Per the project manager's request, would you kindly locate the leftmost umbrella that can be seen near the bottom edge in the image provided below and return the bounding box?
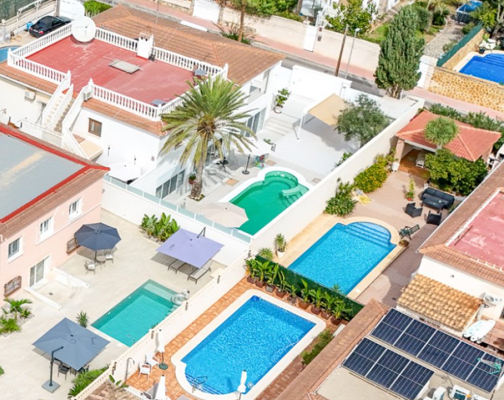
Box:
[32,319,111,394]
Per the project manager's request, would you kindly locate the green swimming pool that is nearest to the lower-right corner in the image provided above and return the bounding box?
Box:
[195,167,315,245]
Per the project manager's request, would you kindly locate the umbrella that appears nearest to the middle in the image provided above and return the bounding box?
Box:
[204,204,250,234]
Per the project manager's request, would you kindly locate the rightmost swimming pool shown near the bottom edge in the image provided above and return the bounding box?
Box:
[166,288,327,400]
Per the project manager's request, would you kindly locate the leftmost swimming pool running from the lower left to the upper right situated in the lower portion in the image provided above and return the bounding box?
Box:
[84,275,187,347]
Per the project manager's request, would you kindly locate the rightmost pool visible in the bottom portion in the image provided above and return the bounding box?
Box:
[278,214,409,299]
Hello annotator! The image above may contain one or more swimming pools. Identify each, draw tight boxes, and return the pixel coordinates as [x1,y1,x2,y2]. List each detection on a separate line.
[84,275,187,347]
[166,288,327,400]
[278,214,409,299]
[448,50,504,87]
[0,41,31,63]
[195,167,315,245]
